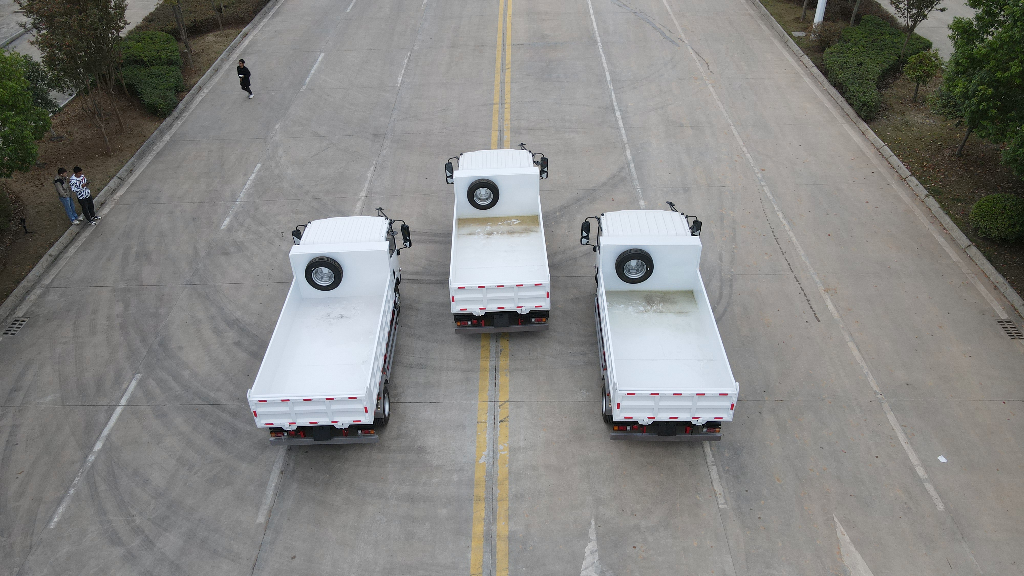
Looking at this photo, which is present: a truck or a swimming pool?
truck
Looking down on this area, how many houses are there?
none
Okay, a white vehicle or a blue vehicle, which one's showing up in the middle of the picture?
white vehicle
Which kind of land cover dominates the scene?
paved ground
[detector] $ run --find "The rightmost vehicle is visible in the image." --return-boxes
[582,199,739,440]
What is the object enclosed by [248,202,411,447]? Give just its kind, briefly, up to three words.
truck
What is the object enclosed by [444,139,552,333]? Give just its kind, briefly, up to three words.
truck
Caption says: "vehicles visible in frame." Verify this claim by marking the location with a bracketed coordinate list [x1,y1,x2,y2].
[248,202,411,447]
[444,139,552,333]
[582,199,739,440]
